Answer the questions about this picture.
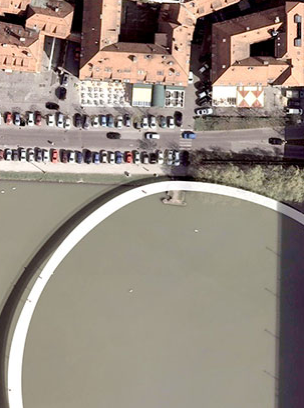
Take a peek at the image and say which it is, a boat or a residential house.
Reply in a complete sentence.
Visible in the photo is a residential house.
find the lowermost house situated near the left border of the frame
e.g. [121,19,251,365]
[0,22,43,73]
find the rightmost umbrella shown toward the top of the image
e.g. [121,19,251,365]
[250,87,263,107]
